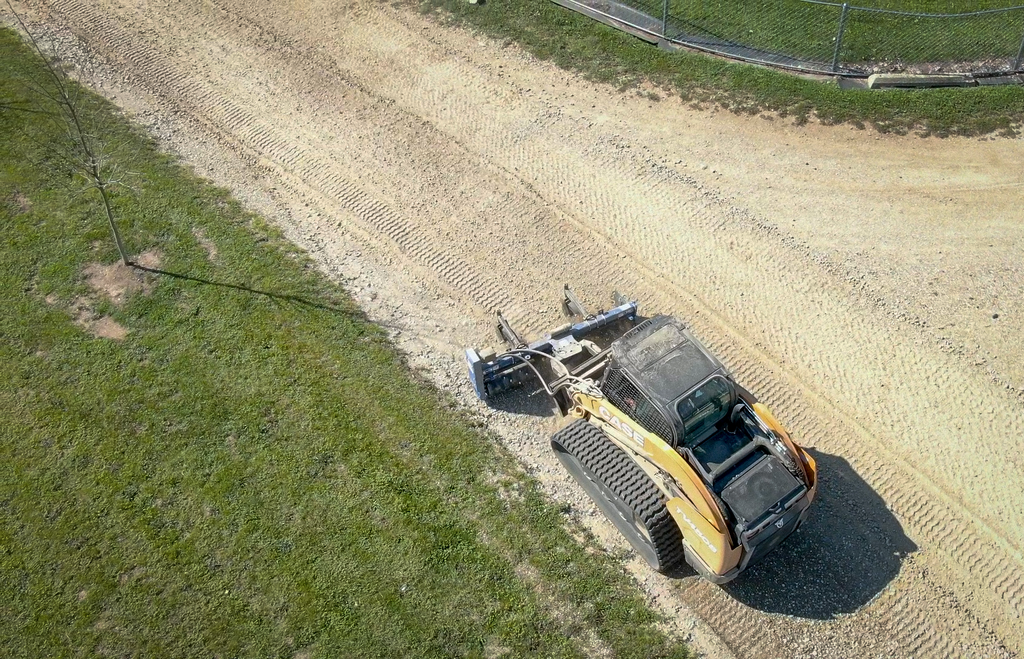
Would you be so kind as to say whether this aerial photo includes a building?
No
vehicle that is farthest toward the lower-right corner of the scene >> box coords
[552,318,820,586]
